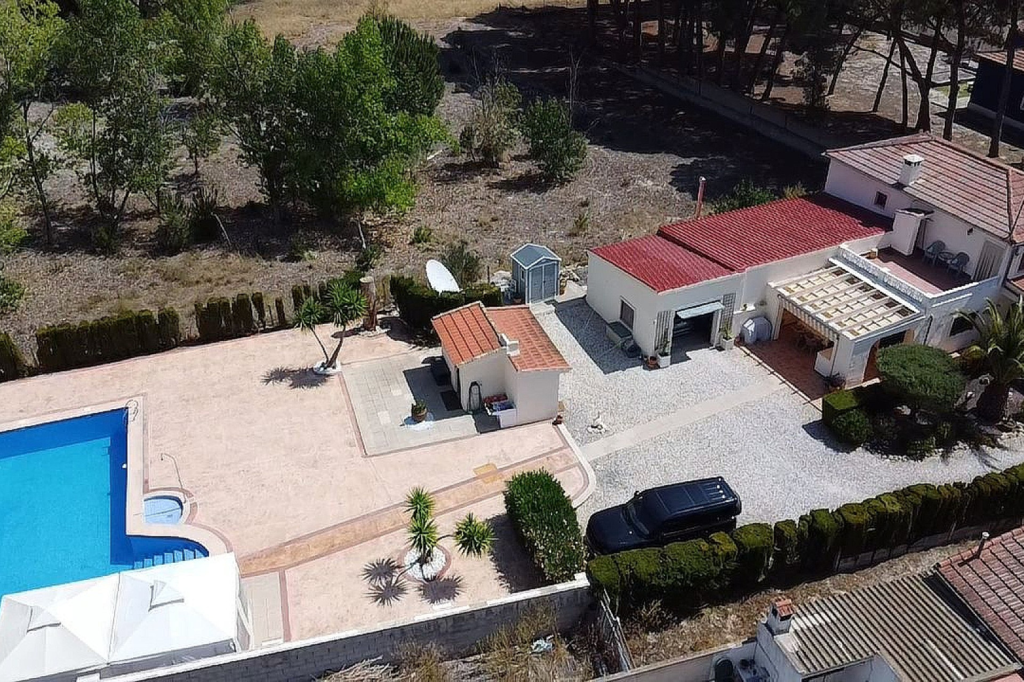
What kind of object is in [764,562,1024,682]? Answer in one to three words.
shed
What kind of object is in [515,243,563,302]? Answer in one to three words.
shed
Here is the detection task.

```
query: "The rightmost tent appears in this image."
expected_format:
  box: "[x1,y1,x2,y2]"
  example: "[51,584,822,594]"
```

[119,553,256,682]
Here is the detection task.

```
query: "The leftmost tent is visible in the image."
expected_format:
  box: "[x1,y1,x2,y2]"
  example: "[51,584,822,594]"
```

[0,577,121,682]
